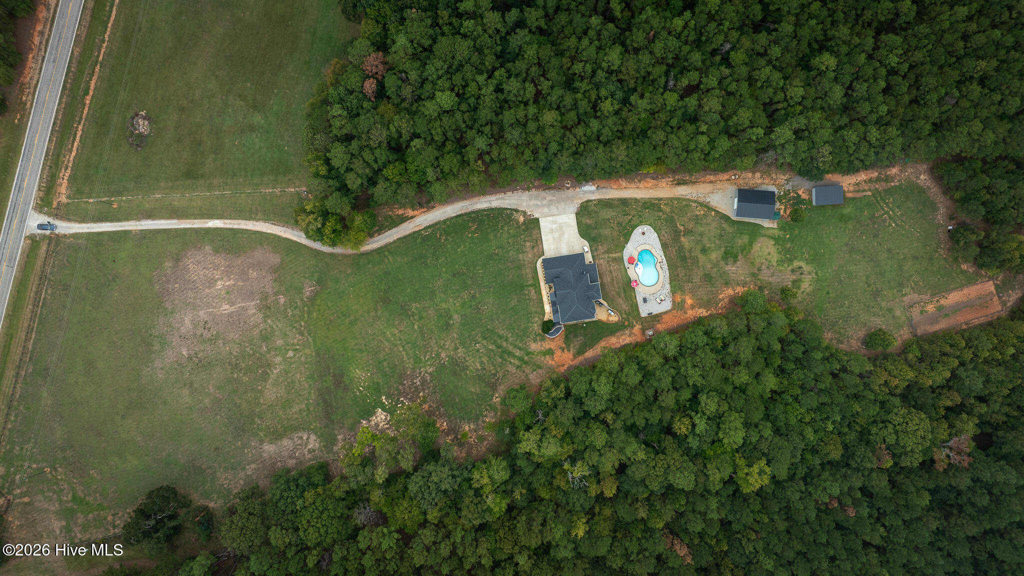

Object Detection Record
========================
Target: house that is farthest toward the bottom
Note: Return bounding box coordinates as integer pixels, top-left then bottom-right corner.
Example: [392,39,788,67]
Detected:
[542,252,602,324]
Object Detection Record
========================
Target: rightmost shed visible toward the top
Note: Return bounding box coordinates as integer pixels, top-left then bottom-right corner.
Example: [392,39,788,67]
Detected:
[811,185,843,206]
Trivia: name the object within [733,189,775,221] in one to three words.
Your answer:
building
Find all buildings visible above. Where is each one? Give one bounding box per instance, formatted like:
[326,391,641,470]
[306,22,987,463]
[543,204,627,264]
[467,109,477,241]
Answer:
[733,189,775,221]
[811,185,843,206]
[542,252,602,324]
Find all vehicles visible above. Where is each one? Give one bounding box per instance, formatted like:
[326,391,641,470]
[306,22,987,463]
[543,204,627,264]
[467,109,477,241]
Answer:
[33,220,55,231]
[582,245,589,253]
